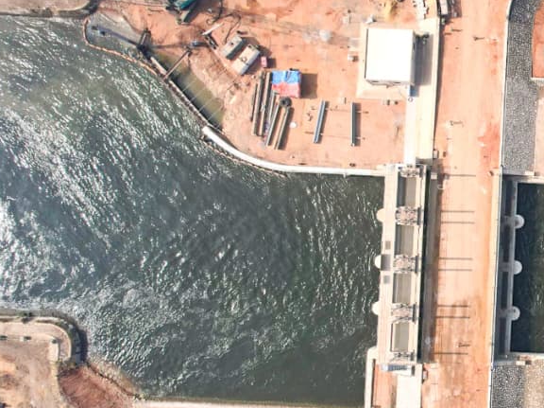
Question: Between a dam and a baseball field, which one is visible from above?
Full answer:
It is a dam that can be seen here.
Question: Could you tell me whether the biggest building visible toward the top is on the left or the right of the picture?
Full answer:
The biggest building visible toward the top appears in the right half of the scene.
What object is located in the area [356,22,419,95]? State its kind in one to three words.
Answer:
building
